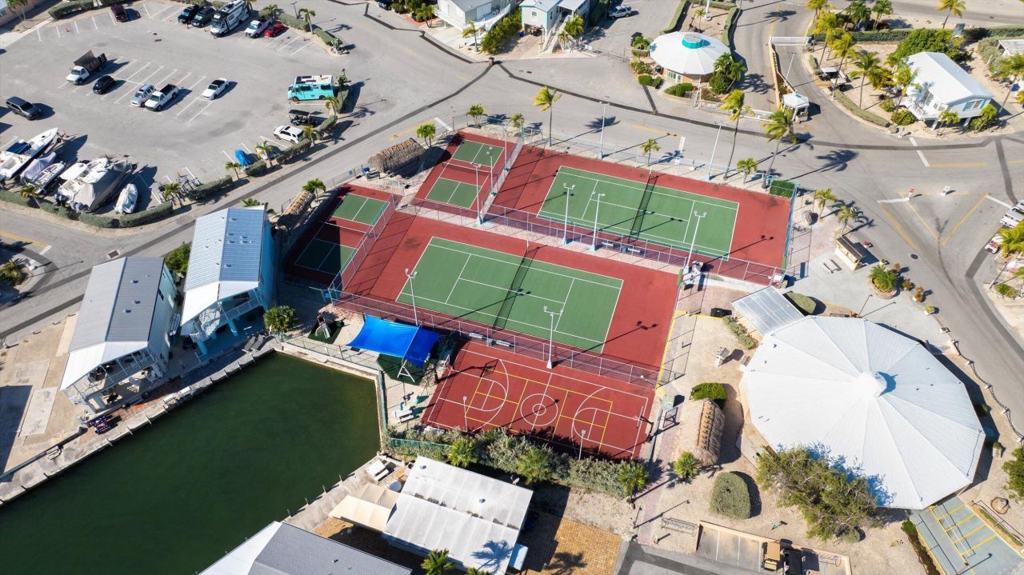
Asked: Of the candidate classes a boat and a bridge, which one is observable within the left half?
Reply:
boat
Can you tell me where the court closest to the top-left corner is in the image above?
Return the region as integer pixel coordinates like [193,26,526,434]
[280,183,402,287]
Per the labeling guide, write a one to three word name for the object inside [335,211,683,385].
tennis court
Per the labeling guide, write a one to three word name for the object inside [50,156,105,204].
boat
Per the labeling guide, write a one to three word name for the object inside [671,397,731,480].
shed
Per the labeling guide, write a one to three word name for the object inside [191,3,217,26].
car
